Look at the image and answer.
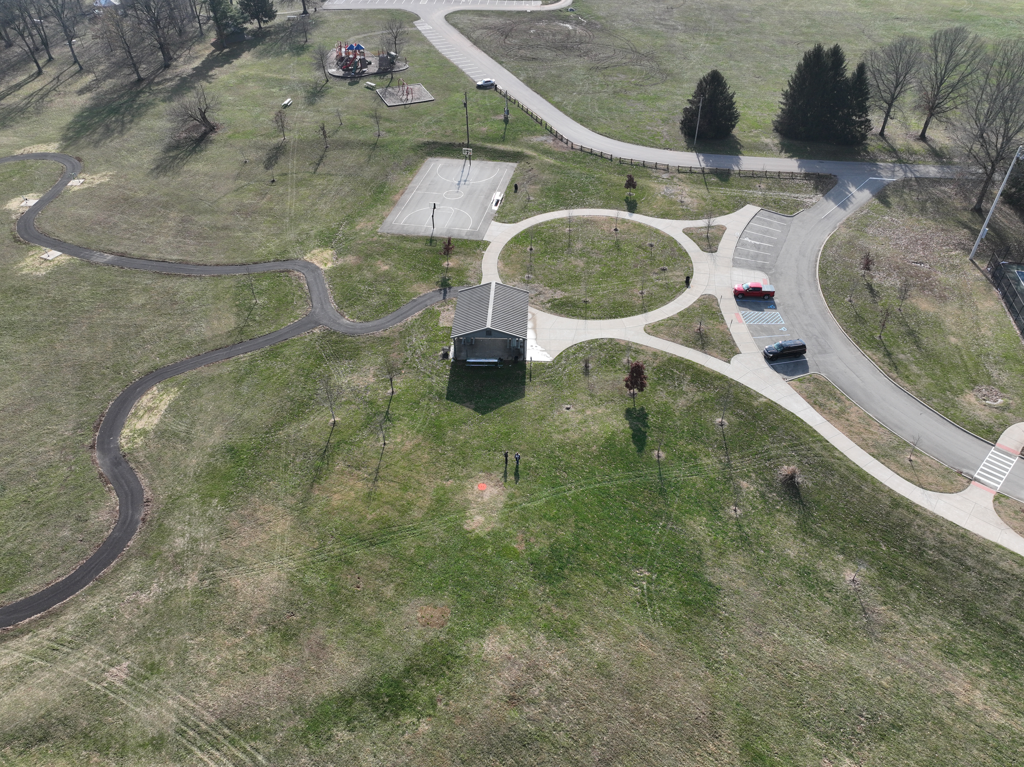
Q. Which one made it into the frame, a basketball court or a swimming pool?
basketball court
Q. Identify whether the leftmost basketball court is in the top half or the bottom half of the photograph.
top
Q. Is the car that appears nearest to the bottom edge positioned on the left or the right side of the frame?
right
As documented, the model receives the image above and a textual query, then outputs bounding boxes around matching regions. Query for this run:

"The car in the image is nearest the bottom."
[761,338,808,361]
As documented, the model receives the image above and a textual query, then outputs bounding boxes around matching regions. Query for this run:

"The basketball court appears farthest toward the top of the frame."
[378,158,517,240]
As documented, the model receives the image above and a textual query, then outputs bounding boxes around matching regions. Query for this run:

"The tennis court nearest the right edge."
[988,263,1024,338]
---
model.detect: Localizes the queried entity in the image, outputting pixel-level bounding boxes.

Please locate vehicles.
[476,78,497,87]
[761,338,808,361]
[732,282,775,299]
